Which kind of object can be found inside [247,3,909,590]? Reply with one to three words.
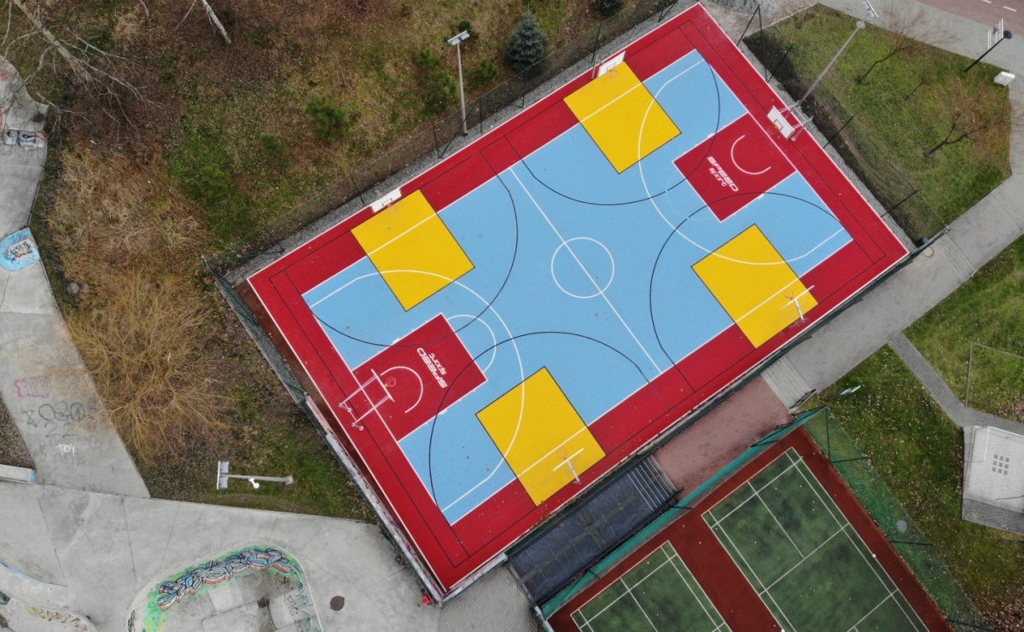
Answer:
basketball court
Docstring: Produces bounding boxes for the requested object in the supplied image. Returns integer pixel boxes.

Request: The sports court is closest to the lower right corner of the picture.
[701,447,933,632]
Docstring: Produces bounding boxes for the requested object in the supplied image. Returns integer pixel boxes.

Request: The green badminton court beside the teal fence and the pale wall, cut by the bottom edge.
[570,541,733,632]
